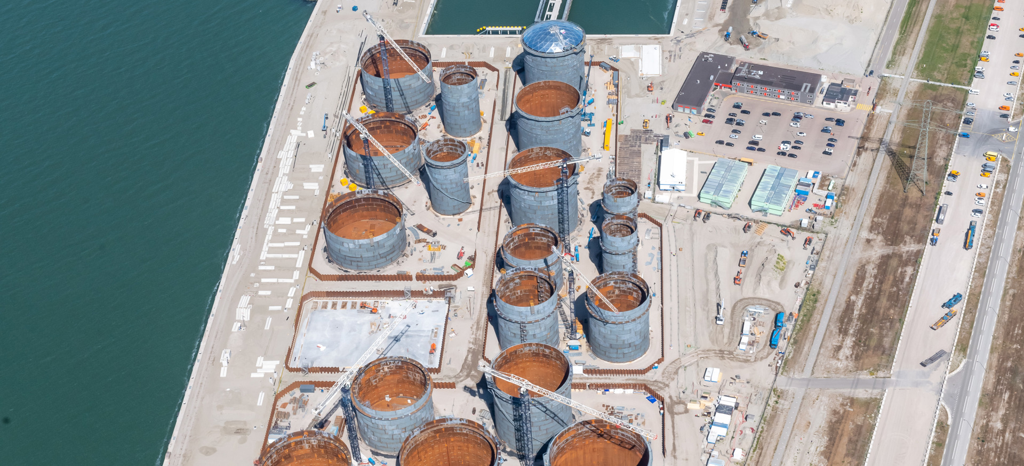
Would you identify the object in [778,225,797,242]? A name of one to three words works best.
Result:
work vehicle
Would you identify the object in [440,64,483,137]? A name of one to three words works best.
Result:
storage tank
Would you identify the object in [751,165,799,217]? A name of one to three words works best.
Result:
building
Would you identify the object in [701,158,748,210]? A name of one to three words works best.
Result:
building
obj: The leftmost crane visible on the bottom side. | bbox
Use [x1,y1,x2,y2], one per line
[315,298,423,466]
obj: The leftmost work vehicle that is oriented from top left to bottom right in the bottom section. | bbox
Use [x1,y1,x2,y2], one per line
[359,299,381,315]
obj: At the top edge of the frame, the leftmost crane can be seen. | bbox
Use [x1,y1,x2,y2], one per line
[360,9,430,112]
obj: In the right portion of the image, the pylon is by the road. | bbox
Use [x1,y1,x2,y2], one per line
[888,100,964,196]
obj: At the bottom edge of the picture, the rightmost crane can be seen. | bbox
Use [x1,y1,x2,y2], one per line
[474,365,656,466]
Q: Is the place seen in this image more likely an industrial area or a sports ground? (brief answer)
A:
industrial area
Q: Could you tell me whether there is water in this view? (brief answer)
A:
Yes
